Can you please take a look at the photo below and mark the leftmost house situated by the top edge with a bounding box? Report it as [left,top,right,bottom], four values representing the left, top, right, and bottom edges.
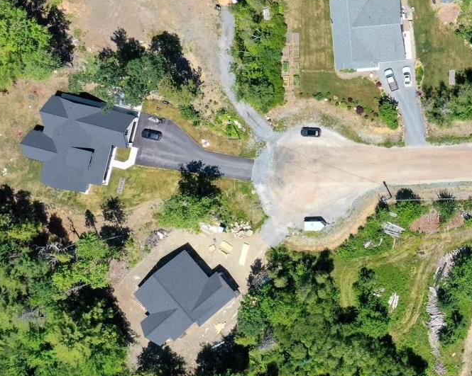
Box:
[329,0,404,72]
